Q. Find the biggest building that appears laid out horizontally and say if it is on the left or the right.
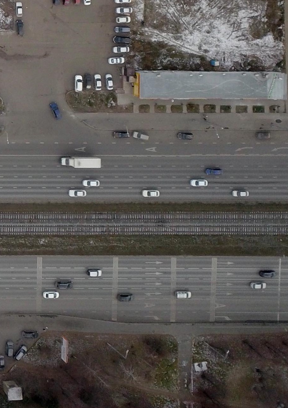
right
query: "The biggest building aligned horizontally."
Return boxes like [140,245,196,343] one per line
[130,70,287,98]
